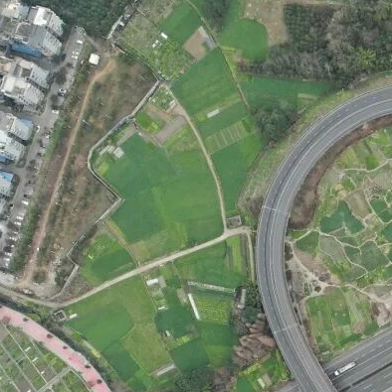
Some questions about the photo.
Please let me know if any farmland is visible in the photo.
Yes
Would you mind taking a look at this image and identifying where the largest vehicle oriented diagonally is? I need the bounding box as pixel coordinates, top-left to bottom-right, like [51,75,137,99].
[333,362,355,376]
